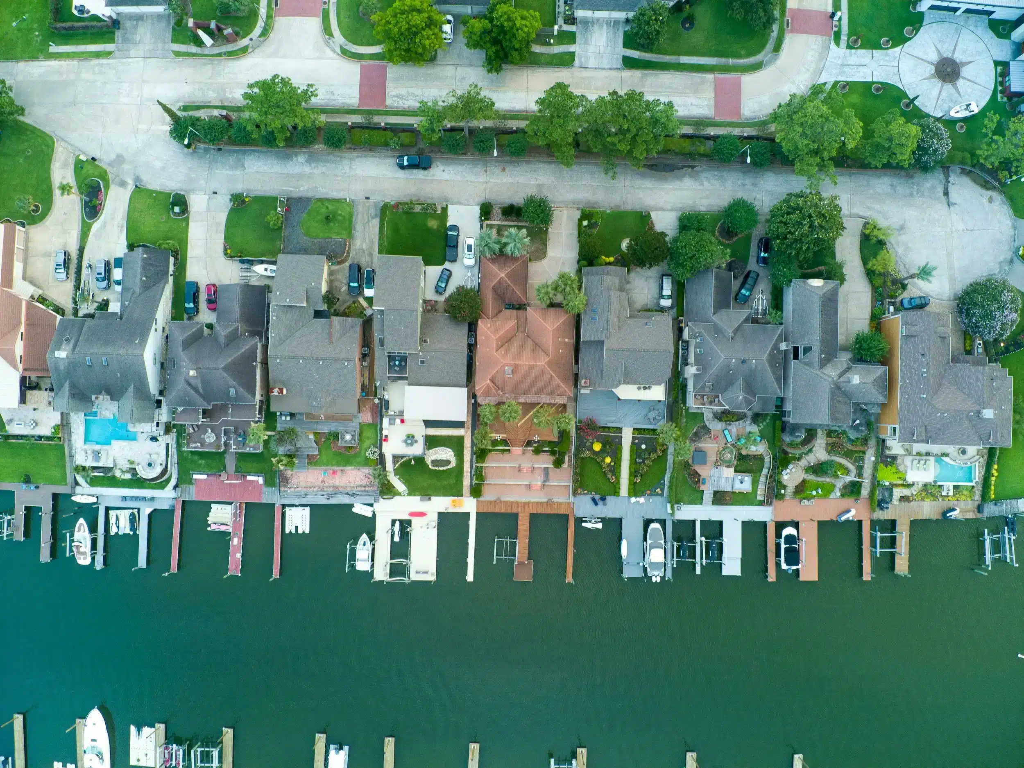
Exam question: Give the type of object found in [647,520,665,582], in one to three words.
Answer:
boat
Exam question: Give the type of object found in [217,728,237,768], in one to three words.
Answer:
pier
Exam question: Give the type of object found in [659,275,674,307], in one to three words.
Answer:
car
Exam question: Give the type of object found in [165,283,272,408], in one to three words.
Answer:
house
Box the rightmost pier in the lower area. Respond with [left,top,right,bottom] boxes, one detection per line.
[983,497,1024,518]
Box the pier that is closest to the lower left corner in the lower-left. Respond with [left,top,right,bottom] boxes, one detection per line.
[1,714,30,768]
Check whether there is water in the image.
Yes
